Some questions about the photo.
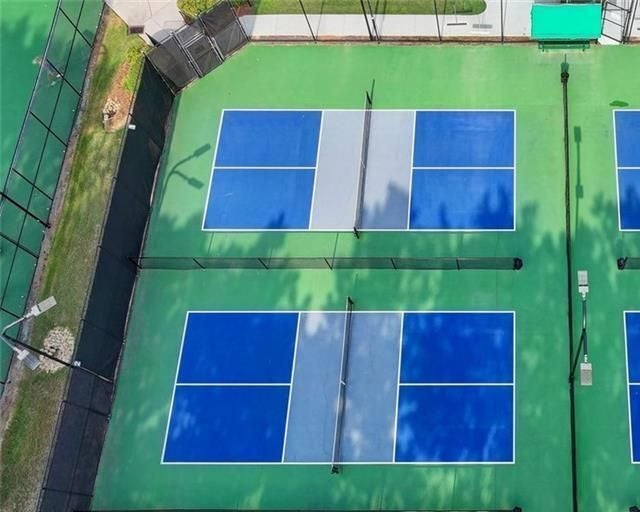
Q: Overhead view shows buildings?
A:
No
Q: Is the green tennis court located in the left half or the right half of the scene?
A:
left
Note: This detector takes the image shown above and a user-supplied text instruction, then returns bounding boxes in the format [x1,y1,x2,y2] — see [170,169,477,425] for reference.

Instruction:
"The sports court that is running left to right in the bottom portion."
[161,310,515,464]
